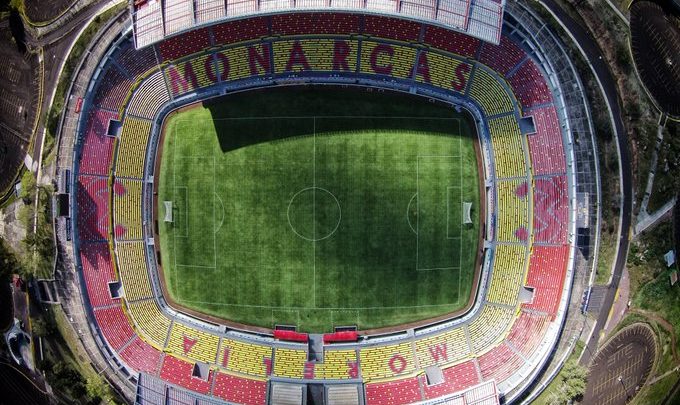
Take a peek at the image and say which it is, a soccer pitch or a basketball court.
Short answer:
soccer pitch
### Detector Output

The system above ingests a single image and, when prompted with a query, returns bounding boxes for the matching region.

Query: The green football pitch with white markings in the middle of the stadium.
[153,84,485,339]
